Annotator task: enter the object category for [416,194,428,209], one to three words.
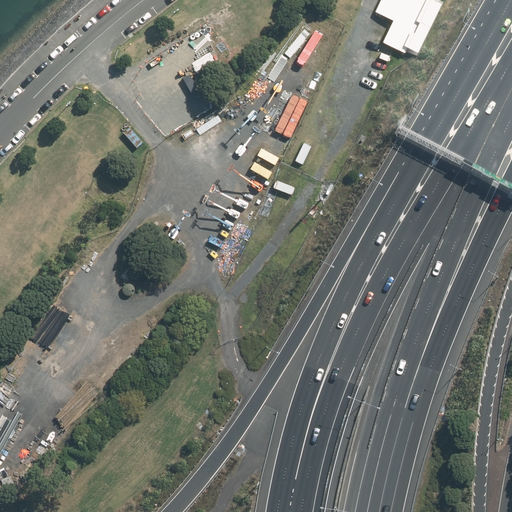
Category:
vehicle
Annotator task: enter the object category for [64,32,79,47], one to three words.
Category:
vehicle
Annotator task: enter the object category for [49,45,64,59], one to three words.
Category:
car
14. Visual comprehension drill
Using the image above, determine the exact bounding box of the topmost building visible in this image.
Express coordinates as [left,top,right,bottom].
[375,0,444,54]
